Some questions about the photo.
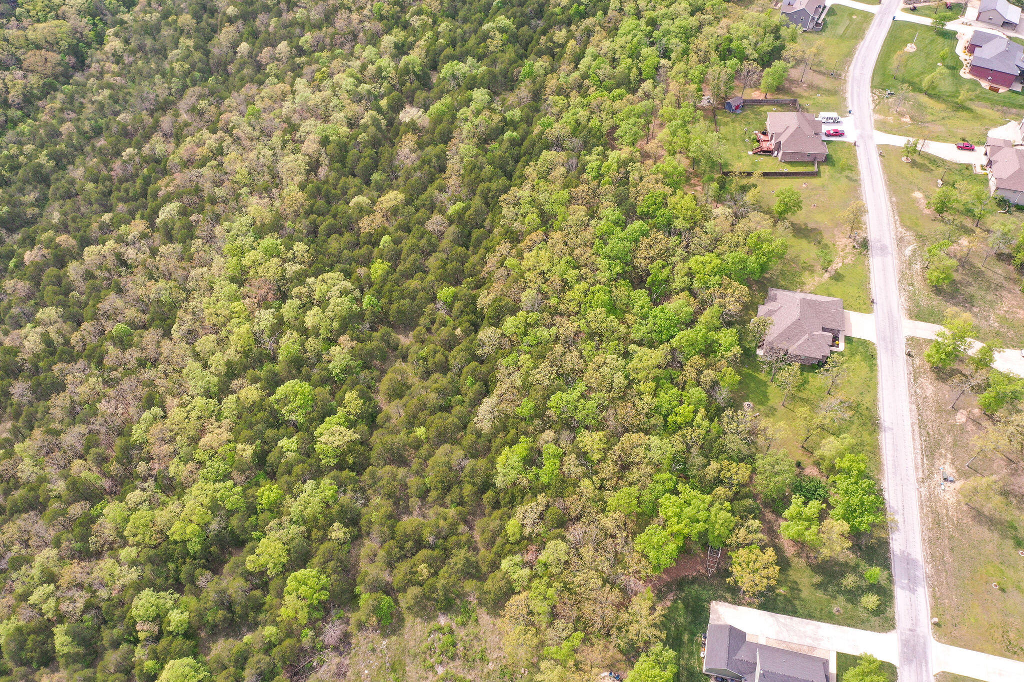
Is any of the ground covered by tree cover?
Yes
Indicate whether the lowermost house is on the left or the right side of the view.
right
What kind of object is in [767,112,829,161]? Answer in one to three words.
house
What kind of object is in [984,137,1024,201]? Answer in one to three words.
house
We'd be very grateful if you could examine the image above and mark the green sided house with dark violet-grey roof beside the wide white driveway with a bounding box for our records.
[700,624,830,682]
